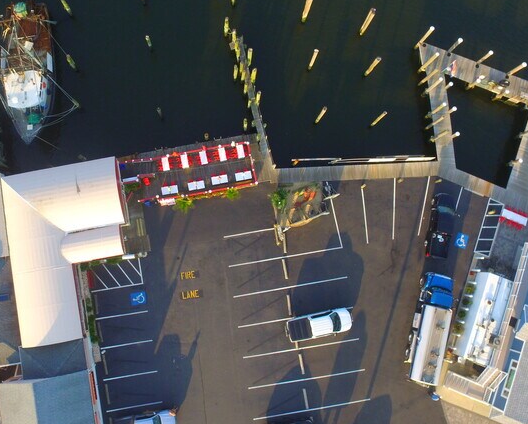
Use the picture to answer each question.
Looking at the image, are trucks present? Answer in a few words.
Yes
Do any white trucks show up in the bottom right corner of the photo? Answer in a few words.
Yes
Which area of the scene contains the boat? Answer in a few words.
top left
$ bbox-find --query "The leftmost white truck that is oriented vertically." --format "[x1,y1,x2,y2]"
[407,272,458,384]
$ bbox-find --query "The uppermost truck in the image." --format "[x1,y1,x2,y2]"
[429,194,464,261]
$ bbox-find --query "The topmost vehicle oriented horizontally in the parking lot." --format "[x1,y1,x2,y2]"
[285,309,353,344]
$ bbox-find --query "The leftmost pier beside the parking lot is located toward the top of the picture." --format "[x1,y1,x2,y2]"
[237,36,274,168]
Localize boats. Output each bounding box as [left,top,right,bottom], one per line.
[0,5,59,144]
